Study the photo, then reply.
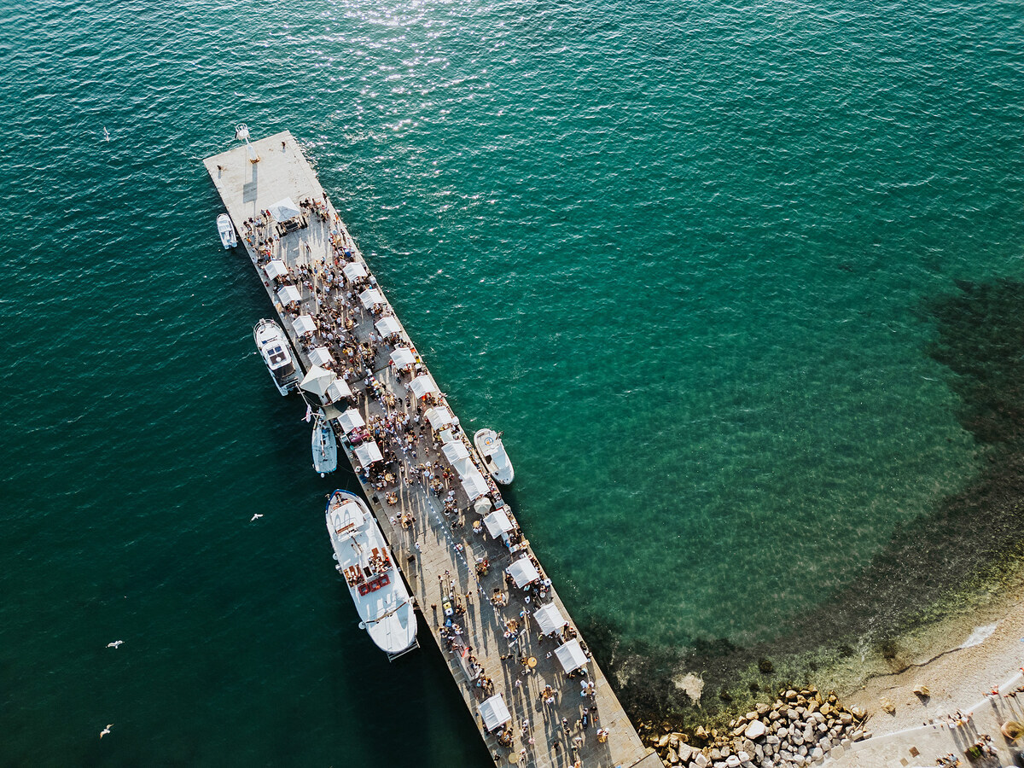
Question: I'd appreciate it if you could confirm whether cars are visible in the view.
No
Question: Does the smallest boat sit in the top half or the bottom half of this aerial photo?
top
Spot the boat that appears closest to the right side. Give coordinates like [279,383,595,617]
[474,428,511,489]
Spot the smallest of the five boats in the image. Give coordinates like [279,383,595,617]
[217,214,241,252]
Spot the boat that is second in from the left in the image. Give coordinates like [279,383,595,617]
[255,318,304,396]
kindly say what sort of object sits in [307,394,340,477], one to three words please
boat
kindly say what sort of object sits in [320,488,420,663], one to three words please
boat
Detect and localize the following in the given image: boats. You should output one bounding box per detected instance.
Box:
[217,214,241,252]
[474,428,511,489]
[255,318,304,396]
[320,488,420,663]
[307,394,340,477]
